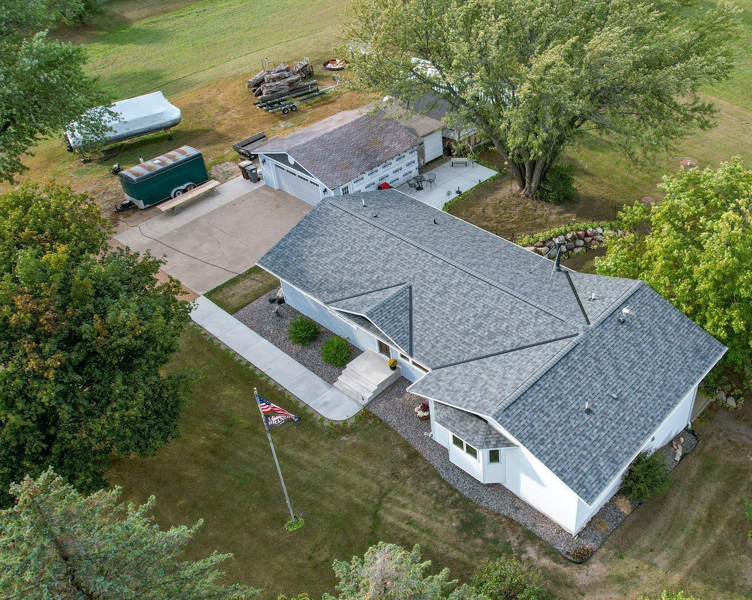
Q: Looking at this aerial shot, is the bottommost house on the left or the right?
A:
right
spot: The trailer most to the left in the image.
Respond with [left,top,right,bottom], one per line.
[111,145,210,214]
